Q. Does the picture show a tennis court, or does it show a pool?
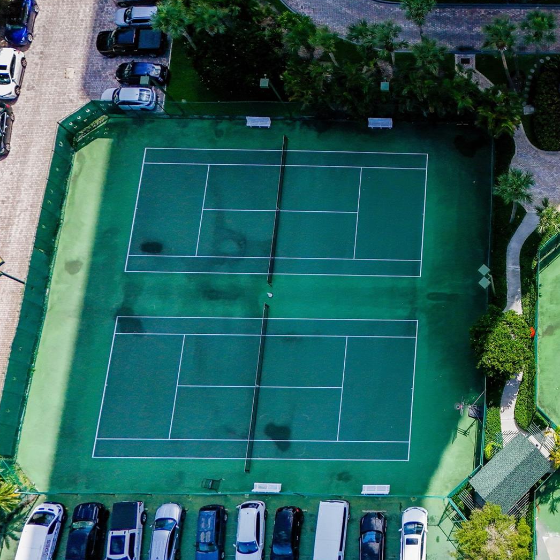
tennis court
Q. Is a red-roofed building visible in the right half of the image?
No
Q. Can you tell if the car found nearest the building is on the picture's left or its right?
right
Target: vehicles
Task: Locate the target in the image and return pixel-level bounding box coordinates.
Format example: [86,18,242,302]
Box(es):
[194,505,230,560]
[269,508,305,560]
[0,49,29,99]
[113,0,167,9]
[314,500,351,560]
[110,502,150,560]
[67,505,110,560]
[117,62,172,89]
[99,29,169,60]
[149,503,187,560]
[0,105,18,155]
[233,502,270,560]
[355,513,388,560]
[11,0,44,43]
[103,87,161,115]
[11,502,70,560]
[116,4,167,31]
[398,508,429,560]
